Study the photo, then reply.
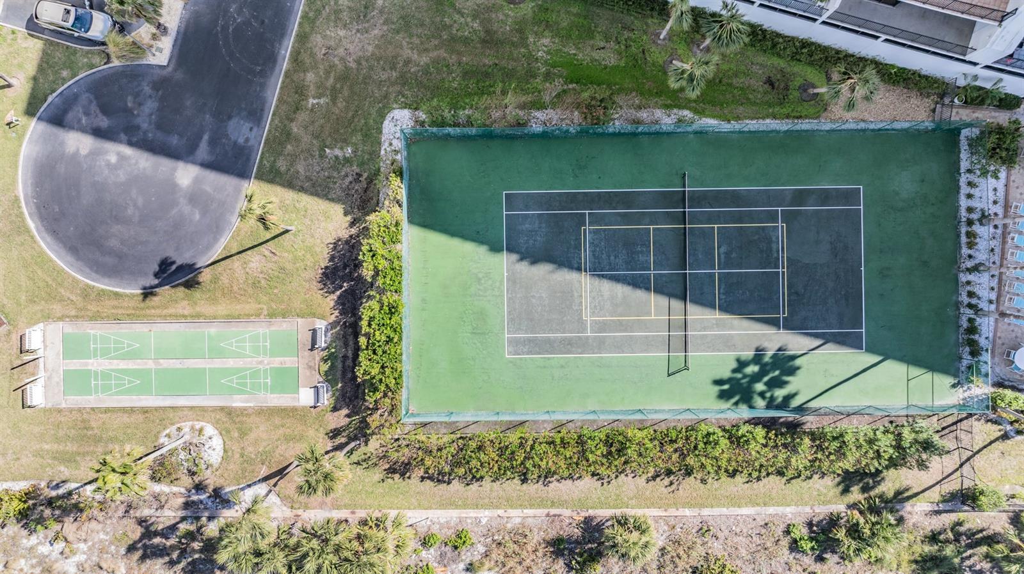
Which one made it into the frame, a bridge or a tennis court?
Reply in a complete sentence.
The image shows a tennis court.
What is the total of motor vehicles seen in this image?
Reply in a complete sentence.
Just 1 motor vehicle appears in this view.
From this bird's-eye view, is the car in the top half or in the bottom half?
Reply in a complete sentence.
You can find the car in the top half.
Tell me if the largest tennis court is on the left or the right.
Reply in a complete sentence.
The largest tennis court appears in the right half of the scene.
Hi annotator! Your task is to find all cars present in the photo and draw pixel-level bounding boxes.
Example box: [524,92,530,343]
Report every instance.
[38,3,115,49]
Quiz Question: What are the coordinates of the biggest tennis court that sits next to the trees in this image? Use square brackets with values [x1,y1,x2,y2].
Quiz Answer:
[407,130,962,413]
